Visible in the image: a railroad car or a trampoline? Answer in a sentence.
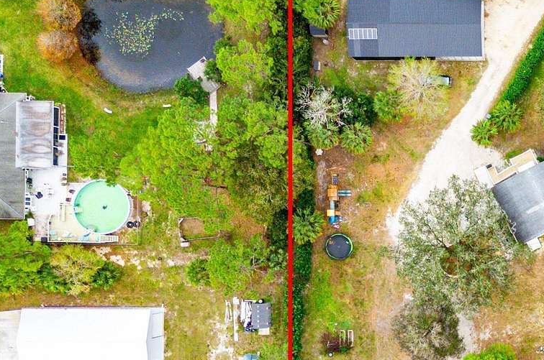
Visible in the photo is a trampoline.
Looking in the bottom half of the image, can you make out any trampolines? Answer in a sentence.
Yes, I can see a trampoline in the bottom half of the image.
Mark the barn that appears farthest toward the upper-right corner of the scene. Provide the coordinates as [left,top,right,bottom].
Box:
[346,0,485,63]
